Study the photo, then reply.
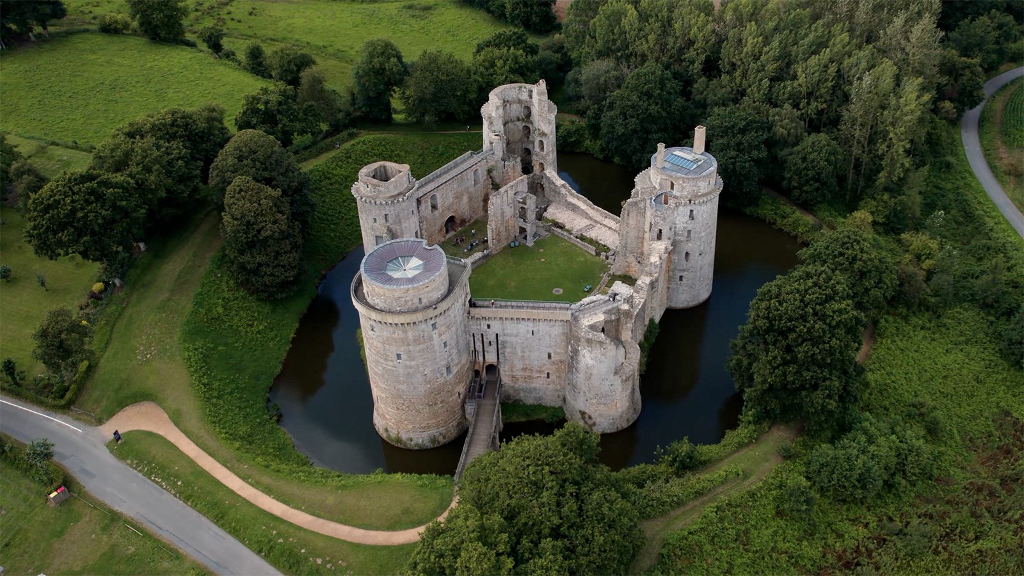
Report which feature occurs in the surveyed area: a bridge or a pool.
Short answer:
bridge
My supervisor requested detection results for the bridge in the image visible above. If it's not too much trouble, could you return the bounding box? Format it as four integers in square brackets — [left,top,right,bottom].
[454,371,502,485]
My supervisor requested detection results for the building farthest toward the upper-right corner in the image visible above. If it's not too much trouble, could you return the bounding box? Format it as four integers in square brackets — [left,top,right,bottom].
[348,84,722,450]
